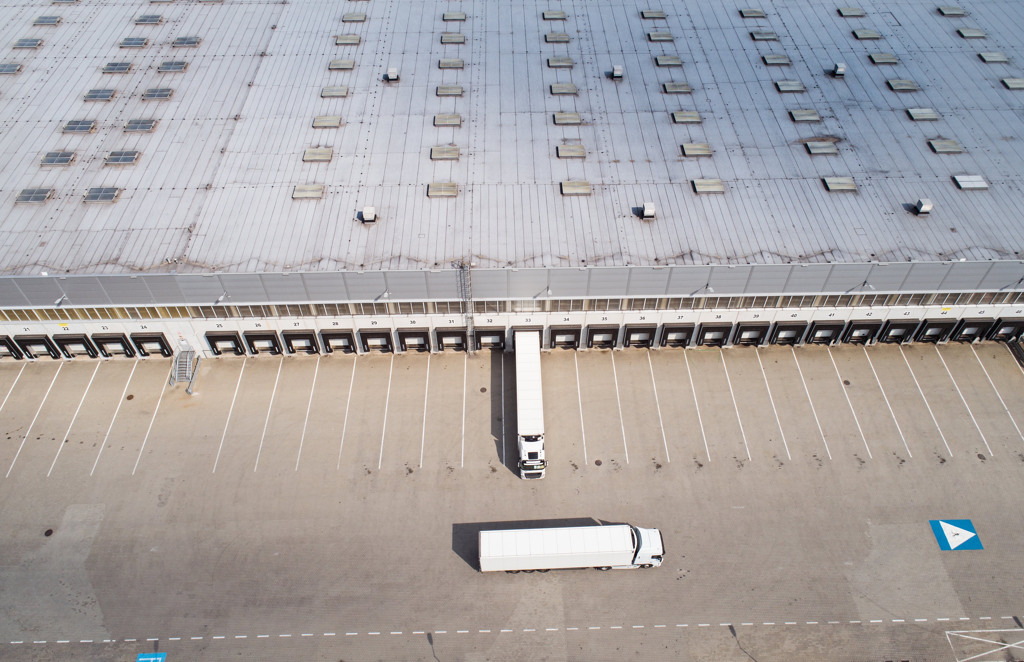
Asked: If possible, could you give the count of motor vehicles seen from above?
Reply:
2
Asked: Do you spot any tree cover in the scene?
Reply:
No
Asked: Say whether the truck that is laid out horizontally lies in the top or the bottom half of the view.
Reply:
bottom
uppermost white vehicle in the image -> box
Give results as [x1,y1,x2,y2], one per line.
[515,332,549,480]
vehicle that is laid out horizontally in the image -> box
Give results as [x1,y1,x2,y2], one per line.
[479,525,665,574]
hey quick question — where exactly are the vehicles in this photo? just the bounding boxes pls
[479,525,665,574]
[515,332,549,480]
